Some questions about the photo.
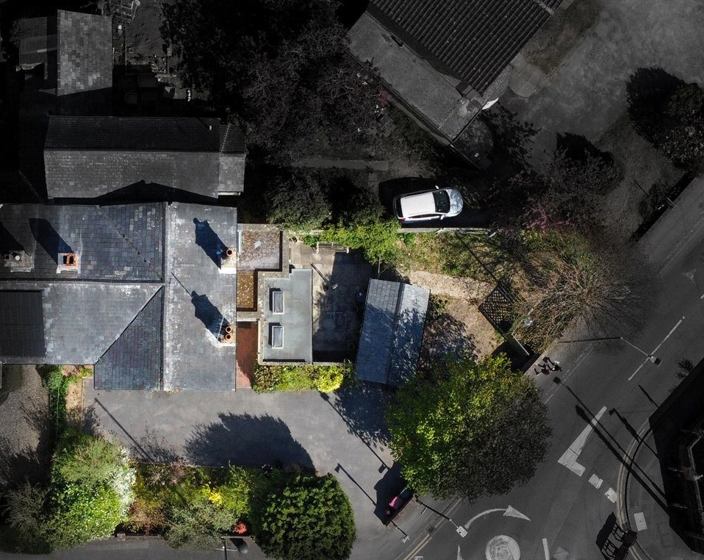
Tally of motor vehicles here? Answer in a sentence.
There are 2 motor vehicles in the image.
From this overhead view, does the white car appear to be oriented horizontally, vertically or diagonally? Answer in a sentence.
The white car is oriented horizontally.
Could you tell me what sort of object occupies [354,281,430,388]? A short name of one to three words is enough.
shed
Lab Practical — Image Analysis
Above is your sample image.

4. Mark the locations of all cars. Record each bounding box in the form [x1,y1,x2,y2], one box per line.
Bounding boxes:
[388,189,462,228]
[378,477,428,526]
